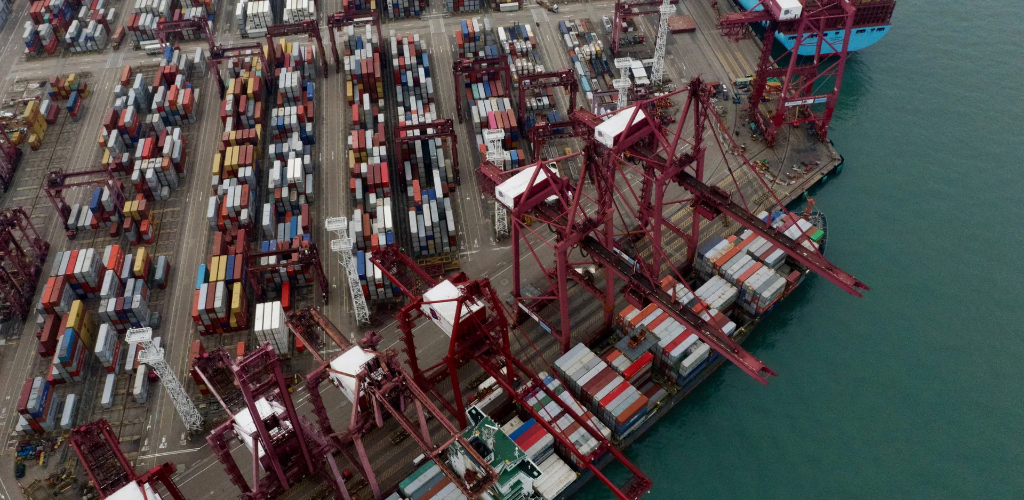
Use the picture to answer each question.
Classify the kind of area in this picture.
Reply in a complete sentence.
It's a port.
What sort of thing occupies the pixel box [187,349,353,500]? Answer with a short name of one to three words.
container crane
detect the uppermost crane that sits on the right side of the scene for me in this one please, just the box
[610,0,664,58]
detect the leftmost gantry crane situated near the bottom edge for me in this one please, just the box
[66,417,193,500]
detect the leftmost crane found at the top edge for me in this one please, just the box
[147,14,213,69]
